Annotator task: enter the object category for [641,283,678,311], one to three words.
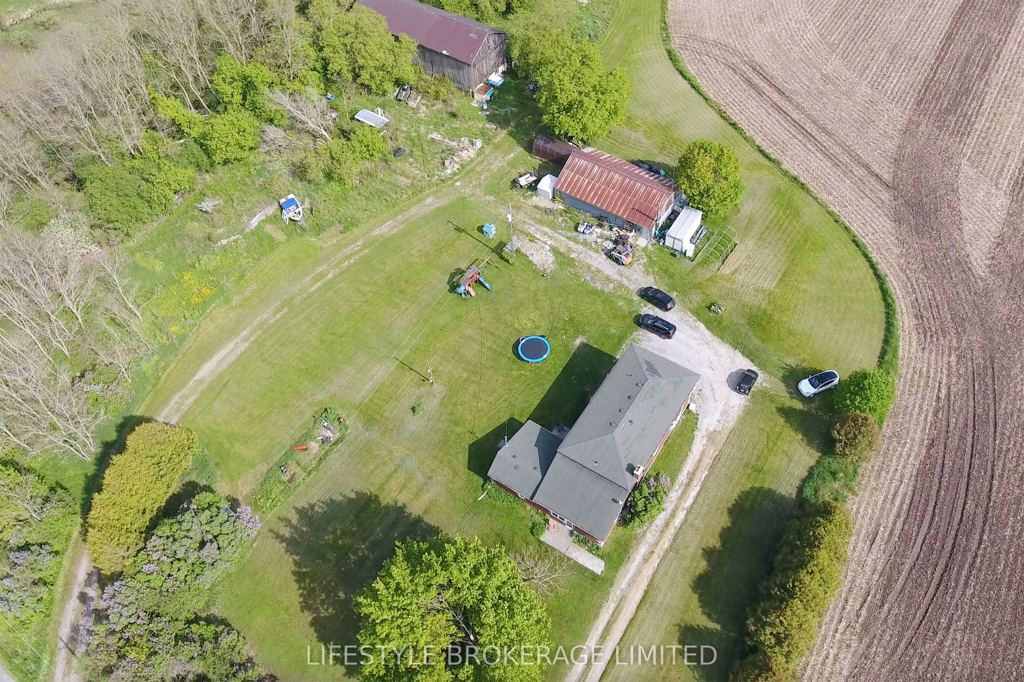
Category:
car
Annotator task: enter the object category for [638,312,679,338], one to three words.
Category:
car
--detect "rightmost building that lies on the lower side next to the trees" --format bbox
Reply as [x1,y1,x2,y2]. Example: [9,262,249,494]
[487,341,701,550]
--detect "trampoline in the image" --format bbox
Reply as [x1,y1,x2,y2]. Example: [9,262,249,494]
[521,337,548,364]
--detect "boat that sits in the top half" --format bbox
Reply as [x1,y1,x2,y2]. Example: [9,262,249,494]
[278,191,300,216]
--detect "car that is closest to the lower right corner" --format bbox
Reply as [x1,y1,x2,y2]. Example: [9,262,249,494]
[798,368,841,396]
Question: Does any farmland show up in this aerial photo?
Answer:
Yes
